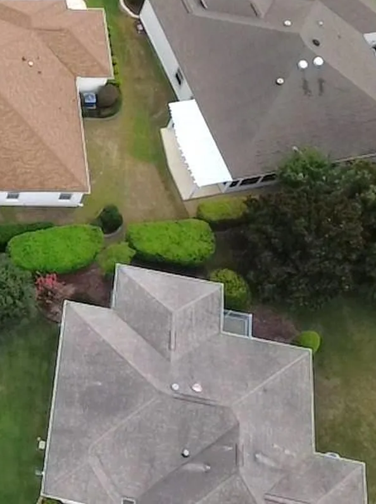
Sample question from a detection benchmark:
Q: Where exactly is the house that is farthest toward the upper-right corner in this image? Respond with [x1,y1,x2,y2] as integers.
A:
[142,0,376,202]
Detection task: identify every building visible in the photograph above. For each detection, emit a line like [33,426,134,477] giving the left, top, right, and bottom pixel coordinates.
[0,0,115,212]
[142,0,376,202]
[40,263,368,504]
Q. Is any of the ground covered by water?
No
